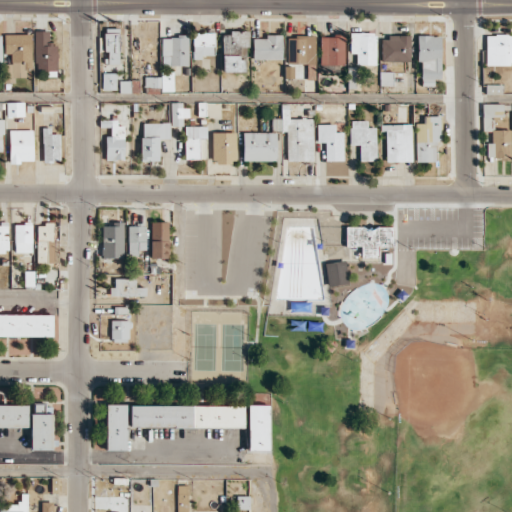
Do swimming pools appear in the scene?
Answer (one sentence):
Yes, there is a swimming pool in the image.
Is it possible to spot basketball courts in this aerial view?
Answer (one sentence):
No, there is no basketball court in the image.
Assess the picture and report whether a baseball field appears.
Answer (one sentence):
Yes, I can see a baseball field in this picture.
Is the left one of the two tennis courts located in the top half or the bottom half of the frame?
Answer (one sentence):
It is in the bottom half that the left one of the two tennis courts appears.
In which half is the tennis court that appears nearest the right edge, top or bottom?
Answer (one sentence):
It is in the bottom half that the tennis court that appears nearest the right edge appears.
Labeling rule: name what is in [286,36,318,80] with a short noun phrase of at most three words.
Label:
house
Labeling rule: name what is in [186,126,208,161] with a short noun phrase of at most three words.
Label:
house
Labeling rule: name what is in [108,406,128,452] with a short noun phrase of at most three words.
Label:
building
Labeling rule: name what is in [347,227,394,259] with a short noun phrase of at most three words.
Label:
building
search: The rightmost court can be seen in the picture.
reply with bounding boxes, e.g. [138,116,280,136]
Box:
[222,325,243,371]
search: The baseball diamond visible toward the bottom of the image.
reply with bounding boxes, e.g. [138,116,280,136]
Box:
[395,342,476,435]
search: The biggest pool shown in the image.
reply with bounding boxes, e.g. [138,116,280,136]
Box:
[268,218,331,317]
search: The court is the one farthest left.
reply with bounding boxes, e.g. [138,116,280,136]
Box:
[196,324,218,370]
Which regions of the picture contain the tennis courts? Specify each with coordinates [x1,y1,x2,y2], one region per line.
[196,324,218,370]
[222,325,243,371]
